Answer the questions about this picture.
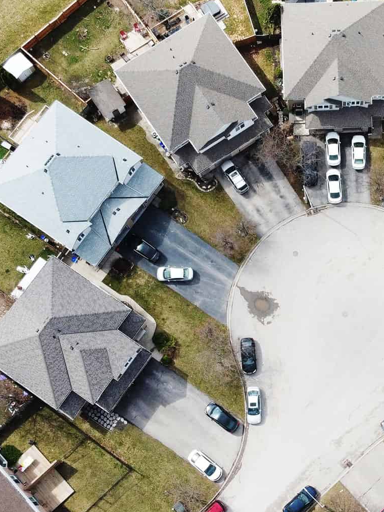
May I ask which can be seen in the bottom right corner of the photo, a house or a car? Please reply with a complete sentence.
The one visible in the bottom right corner of the photo is a car.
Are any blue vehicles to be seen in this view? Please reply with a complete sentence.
Yes, I can see a blue vehicle in this picture.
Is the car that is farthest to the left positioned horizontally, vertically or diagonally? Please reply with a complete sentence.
I'd say the car that is farthest to the left is aligned diagonally in the picture.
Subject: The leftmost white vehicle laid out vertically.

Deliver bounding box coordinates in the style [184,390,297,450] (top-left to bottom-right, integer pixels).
[245,387,263,424]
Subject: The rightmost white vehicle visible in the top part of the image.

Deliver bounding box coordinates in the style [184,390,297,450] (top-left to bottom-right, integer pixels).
[350,136,367,170]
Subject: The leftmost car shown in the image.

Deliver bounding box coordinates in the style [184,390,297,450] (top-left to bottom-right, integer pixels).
[126,232,162,265]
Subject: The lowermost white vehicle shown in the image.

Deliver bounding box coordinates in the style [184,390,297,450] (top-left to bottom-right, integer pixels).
[187,448,223,485]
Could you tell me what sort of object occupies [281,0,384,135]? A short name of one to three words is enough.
house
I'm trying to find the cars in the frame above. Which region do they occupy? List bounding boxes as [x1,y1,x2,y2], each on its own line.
[158,265,194,282]
[204,500,226,512]
[325,170,343,203]
[350,136,367,170]
[126,232,162,265]
[245,387,263,424]
[282,486,317,512]
[205,402,241,435]
[239,338,258,374]
[187,448,223,485]
[220,161,249,195]
[324,133,341,166]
